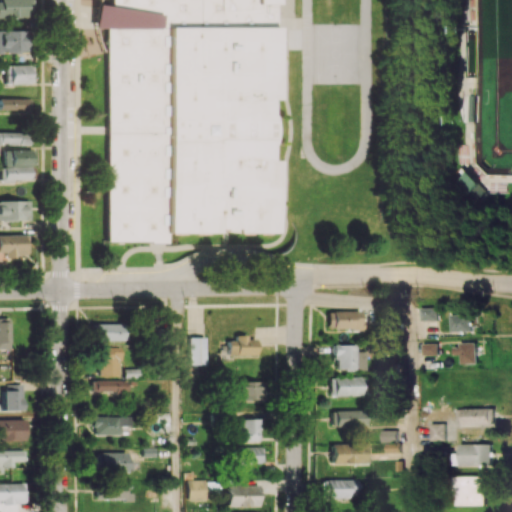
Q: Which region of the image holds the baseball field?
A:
top right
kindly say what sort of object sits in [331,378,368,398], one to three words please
house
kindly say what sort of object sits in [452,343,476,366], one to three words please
house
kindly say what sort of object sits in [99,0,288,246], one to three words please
building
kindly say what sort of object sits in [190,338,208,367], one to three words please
building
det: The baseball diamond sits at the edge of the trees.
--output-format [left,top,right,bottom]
[477,0,512,174]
